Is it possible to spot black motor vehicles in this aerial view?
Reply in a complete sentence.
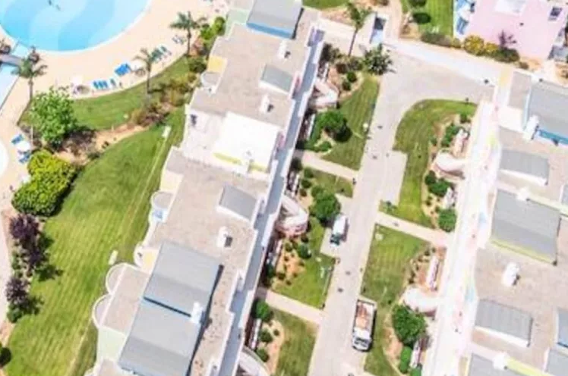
No, the picture doesn't show any black motor vehicle.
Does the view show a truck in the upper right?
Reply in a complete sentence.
No, I see no truck in the upper right.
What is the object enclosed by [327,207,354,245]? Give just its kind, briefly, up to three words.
vehicle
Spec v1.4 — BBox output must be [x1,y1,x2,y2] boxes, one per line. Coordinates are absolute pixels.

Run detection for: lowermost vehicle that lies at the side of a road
[351,294,381,349]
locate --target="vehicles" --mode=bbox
[327,207,354,245]
[351,294,381,349]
